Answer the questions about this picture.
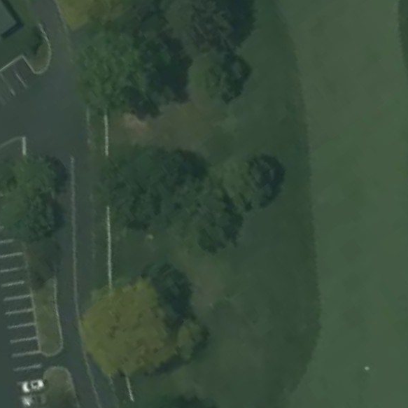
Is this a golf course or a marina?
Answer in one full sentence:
The area seen from above is a golf course.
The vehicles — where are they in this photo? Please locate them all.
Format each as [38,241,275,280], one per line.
[21,394,45,407]
[20,378,44,392]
